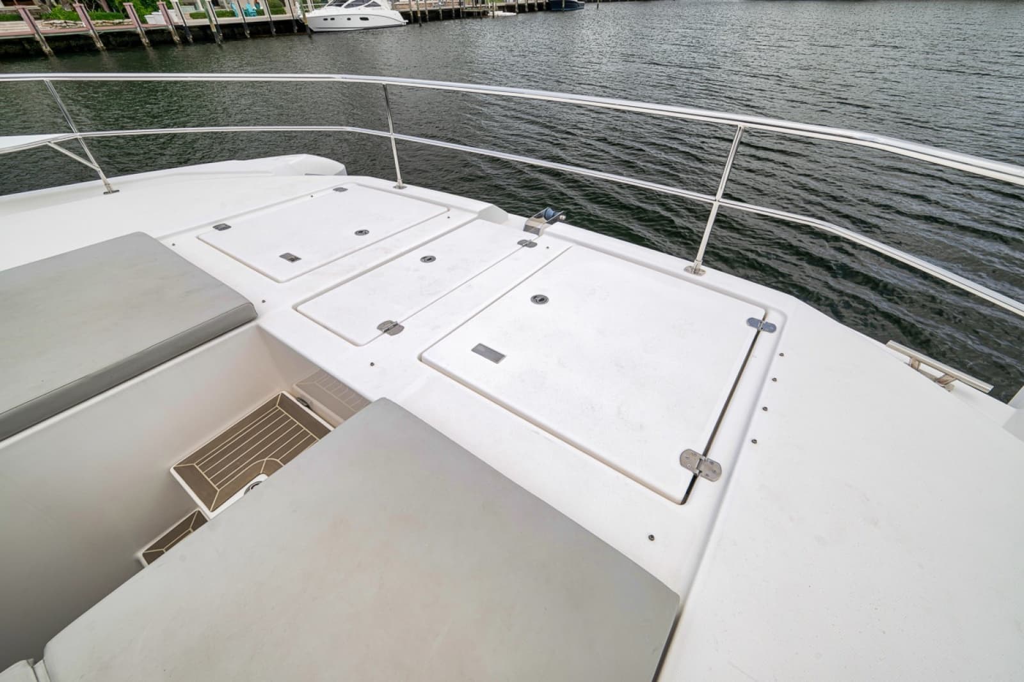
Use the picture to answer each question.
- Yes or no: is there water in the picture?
Yes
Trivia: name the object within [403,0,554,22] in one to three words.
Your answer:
pier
